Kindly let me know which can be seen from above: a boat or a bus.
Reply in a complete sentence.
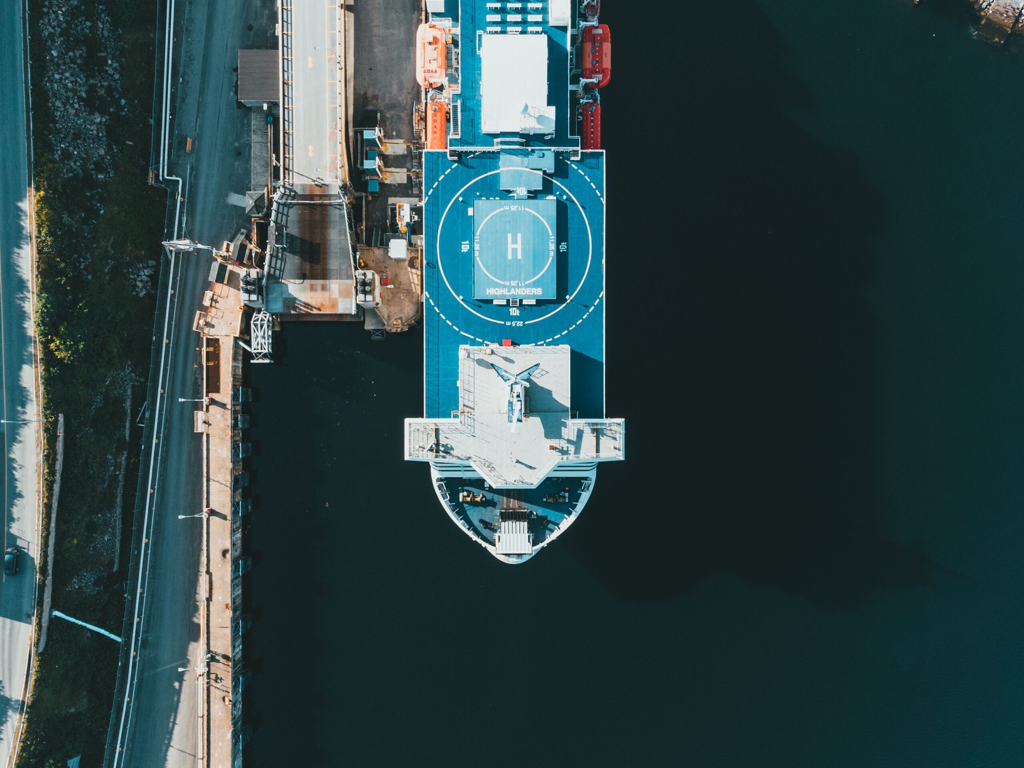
Looking from above, you can make out a boat.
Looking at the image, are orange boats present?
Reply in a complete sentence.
Yes, the image includes an orange boat.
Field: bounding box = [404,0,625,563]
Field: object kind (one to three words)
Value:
ship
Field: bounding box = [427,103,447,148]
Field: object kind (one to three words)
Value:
boat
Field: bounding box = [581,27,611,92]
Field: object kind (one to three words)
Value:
boat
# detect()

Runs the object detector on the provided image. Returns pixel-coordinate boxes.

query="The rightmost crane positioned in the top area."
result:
[387,203,421,245]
